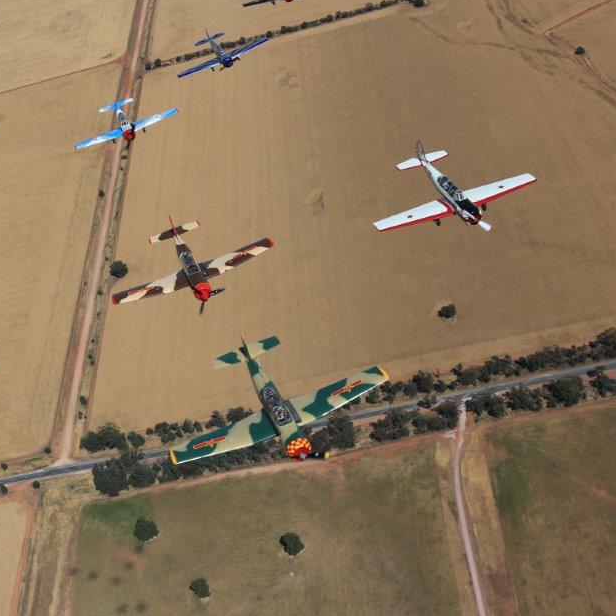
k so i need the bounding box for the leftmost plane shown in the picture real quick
[75,94,177,148]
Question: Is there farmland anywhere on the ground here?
Yes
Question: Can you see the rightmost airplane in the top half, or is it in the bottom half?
top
